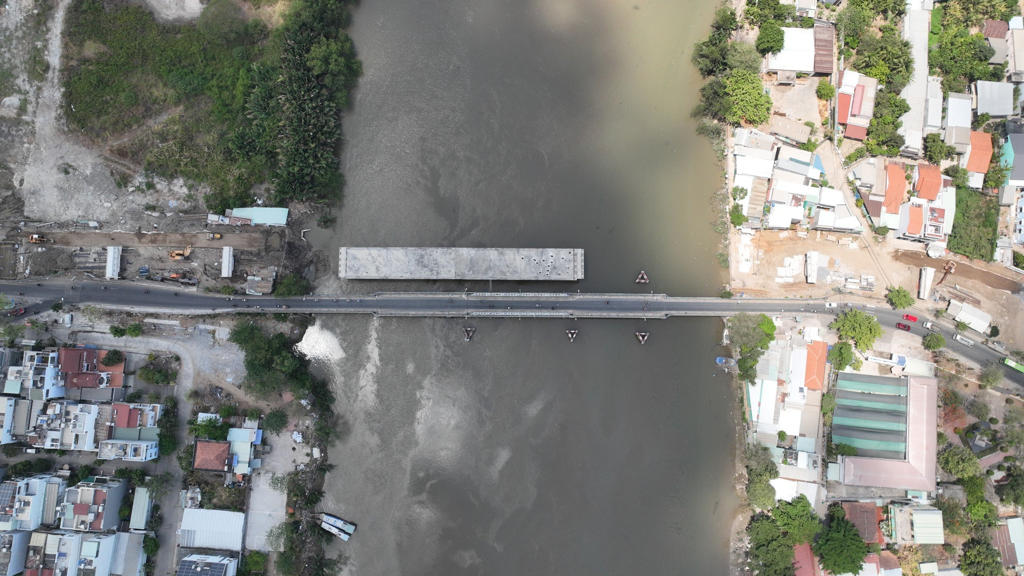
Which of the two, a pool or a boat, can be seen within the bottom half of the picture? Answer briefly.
boat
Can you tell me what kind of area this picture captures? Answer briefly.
residential area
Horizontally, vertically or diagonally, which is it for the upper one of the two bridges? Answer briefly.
horizontally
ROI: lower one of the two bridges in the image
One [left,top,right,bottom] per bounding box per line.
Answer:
[255,291,785,320]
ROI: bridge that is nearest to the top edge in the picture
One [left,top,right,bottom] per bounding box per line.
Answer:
[337,247,584,281]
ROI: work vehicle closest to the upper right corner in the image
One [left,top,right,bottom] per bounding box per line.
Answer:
[935,258,962,287]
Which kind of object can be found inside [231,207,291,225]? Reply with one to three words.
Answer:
shed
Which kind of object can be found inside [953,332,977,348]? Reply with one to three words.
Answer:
vehicle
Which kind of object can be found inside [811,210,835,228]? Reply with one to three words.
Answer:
house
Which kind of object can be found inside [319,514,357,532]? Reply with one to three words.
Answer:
boat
